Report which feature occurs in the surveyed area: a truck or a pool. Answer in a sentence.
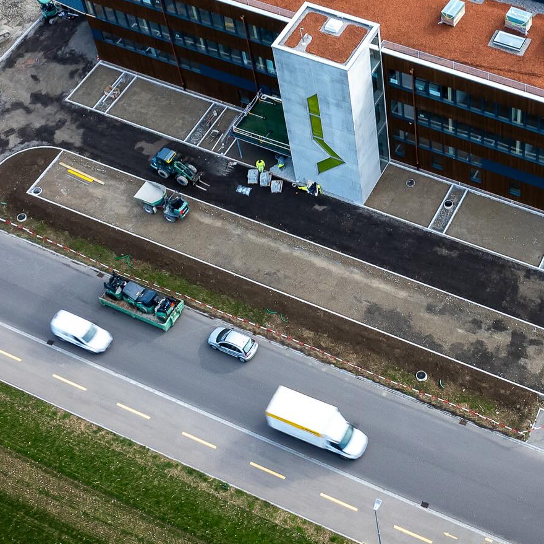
It is a truck that can be seen here.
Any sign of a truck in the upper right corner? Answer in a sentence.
No, I can find no truck in the upper right corner.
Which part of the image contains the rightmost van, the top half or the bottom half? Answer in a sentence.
The bottom half of the photo is where the rightmost van is.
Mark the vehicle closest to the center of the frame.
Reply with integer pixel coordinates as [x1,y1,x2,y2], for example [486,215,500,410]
[207,320,262,359]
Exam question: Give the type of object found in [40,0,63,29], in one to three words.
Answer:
work vehicle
